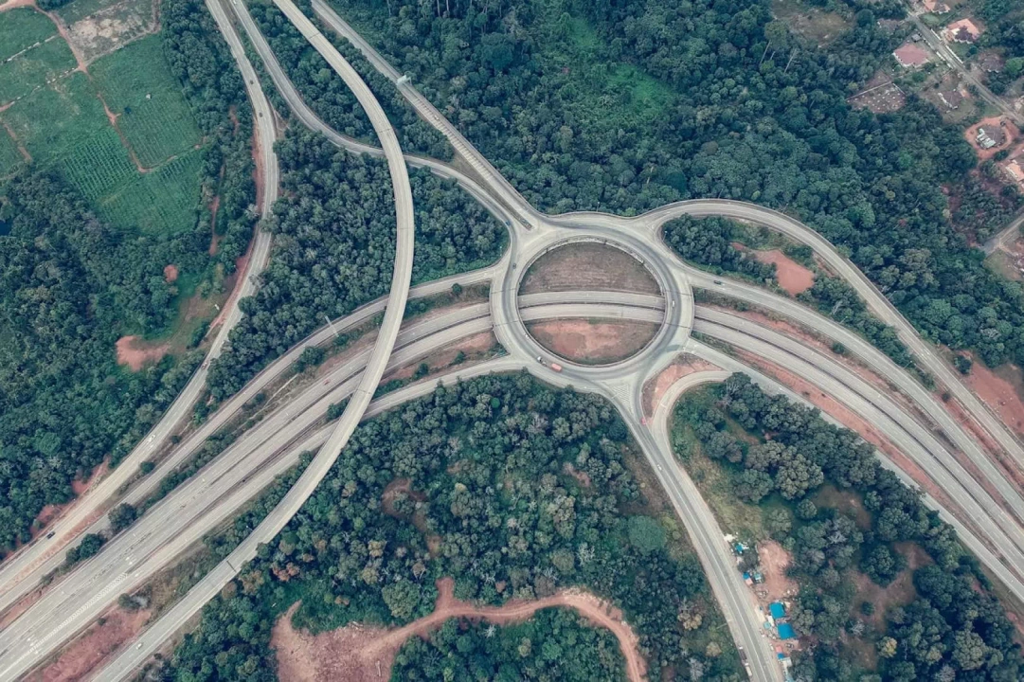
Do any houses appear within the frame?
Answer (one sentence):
Yes, the photo shows a house.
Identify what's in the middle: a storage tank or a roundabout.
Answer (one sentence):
Visible in the middle is a roundabout.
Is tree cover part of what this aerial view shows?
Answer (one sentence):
Yes, tree cover can be seen from above here.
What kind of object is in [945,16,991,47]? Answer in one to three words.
house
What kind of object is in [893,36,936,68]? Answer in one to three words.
house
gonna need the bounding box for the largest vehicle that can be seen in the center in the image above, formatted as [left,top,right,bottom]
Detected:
[538,355,564,370]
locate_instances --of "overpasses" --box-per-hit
[90,0,415,682]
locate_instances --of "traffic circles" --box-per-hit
[478,187,720,446]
